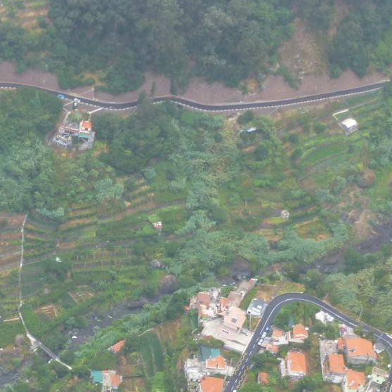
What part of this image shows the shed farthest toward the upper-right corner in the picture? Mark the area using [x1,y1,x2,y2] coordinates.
[334,115,357,136]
